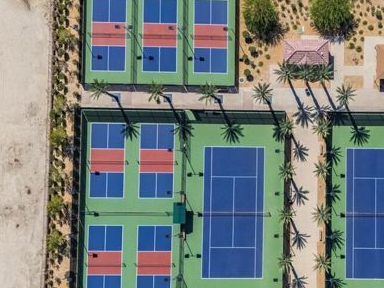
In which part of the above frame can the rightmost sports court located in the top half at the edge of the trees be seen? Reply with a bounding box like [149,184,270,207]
[186,0,236,85]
